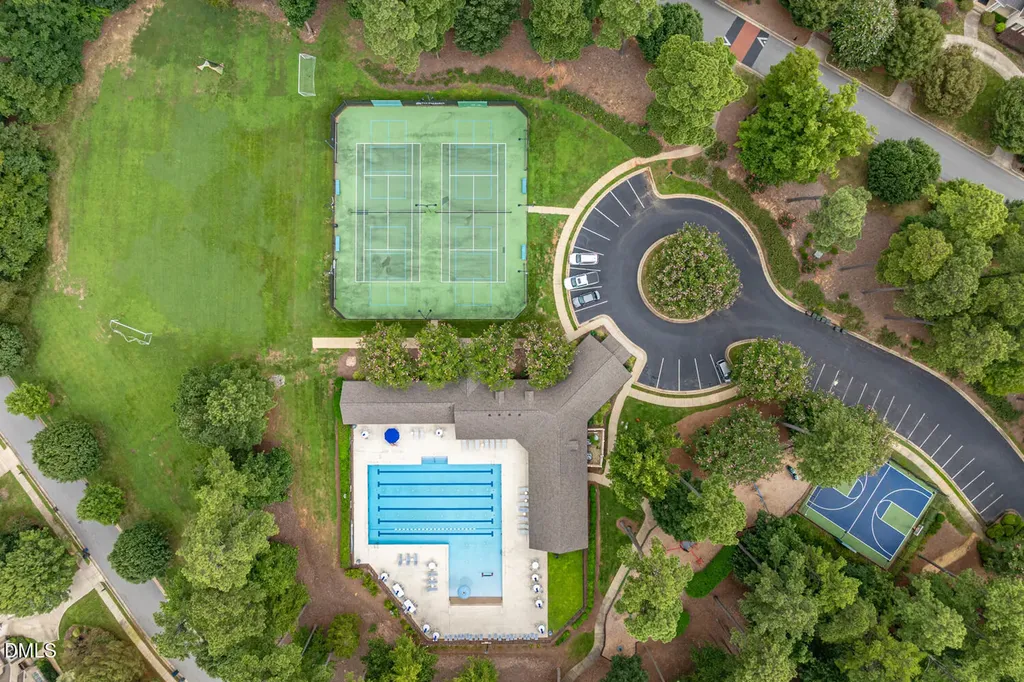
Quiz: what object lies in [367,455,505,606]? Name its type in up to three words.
swimming pool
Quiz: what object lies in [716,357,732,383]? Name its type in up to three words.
car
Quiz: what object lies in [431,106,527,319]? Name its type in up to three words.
tennis court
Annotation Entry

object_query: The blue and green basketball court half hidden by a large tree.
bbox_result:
[795,443,939,567]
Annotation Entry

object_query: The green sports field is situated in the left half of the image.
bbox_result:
[22,0,337,579]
